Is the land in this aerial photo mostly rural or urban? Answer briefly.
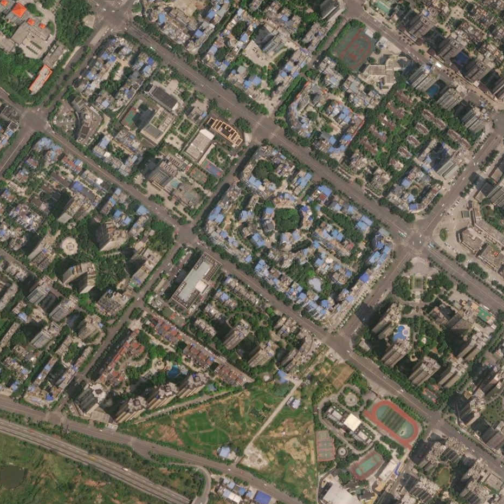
urban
